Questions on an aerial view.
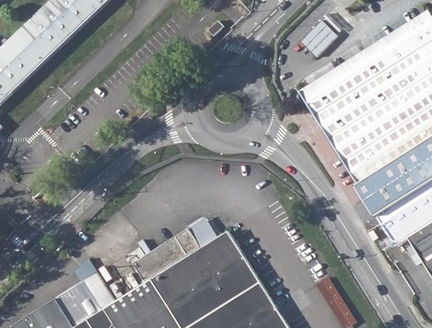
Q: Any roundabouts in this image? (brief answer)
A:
Yes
